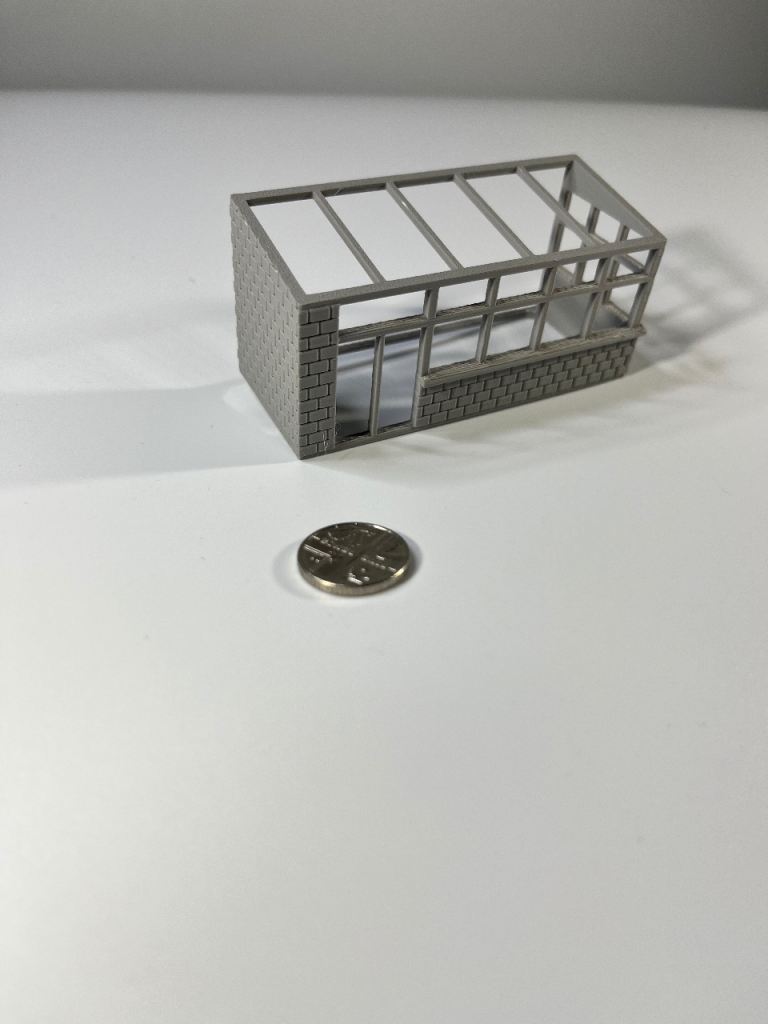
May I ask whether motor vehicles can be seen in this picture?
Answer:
No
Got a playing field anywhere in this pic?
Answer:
No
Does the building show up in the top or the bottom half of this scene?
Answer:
top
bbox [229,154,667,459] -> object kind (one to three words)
building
